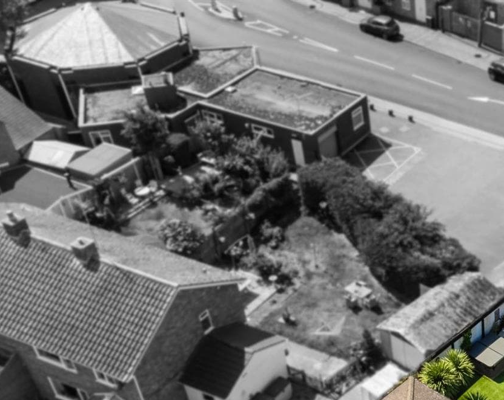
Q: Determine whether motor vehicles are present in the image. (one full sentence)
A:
Yes, this view includes a motor vehicle.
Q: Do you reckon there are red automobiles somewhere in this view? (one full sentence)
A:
No, there's no red automobile here.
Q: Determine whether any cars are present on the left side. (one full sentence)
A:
No, on the left side there is no car.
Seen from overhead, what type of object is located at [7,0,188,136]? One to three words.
building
